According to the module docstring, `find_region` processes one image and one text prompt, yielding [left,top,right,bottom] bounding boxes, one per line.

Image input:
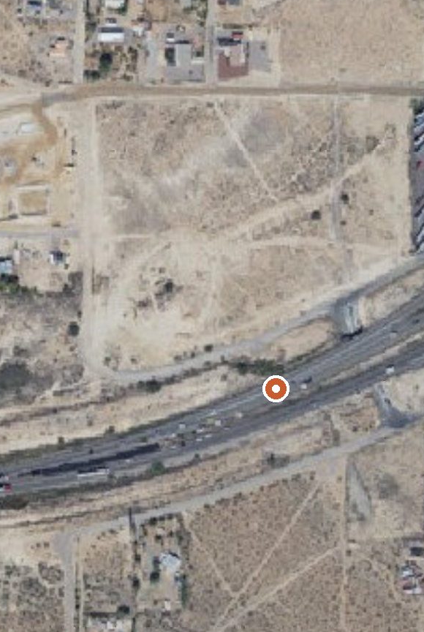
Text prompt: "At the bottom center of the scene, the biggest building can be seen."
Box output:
[157,552,182,574]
